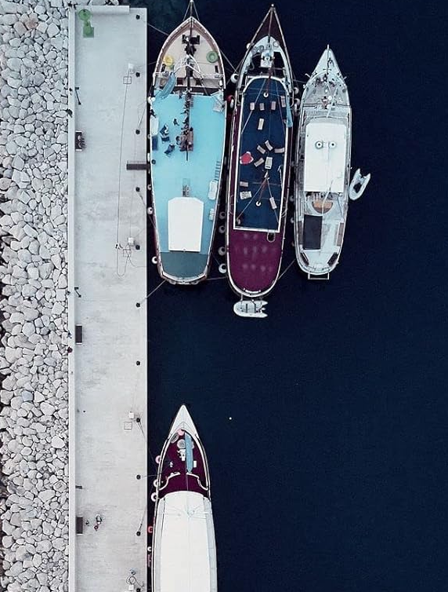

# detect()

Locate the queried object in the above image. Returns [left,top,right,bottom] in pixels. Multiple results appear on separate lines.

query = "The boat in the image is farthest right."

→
[350,168,373,200]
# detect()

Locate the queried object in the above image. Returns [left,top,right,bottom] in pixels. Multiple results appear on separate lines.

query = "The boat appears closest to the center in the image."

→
[233,300,268,317]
